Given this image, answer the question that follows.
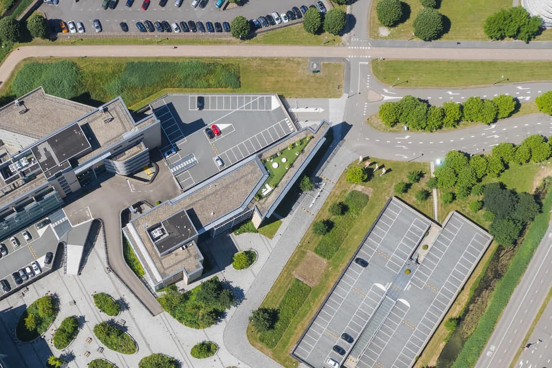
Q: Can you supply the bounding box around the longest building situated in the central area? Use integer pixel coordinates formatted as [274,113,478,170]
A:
[123,120,331,290]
